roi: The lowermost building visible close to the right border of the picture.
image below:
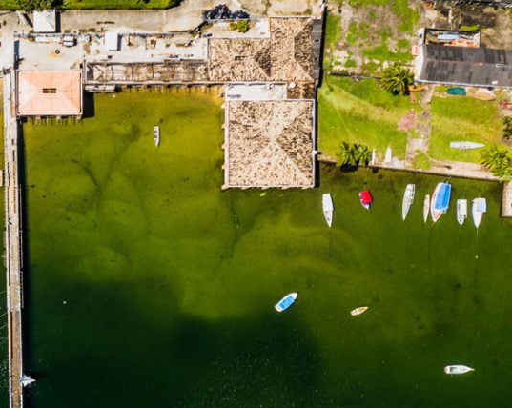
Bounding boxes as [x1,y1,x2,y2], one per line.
[412,45,512,91]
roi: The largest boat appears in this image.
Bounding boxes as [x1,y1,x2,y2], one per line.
[432,181,454,222]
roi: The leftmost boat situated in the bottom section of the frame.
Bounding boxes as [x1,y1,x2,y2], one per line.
[274,292,298,313]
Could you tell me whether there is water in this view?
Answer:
Yes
